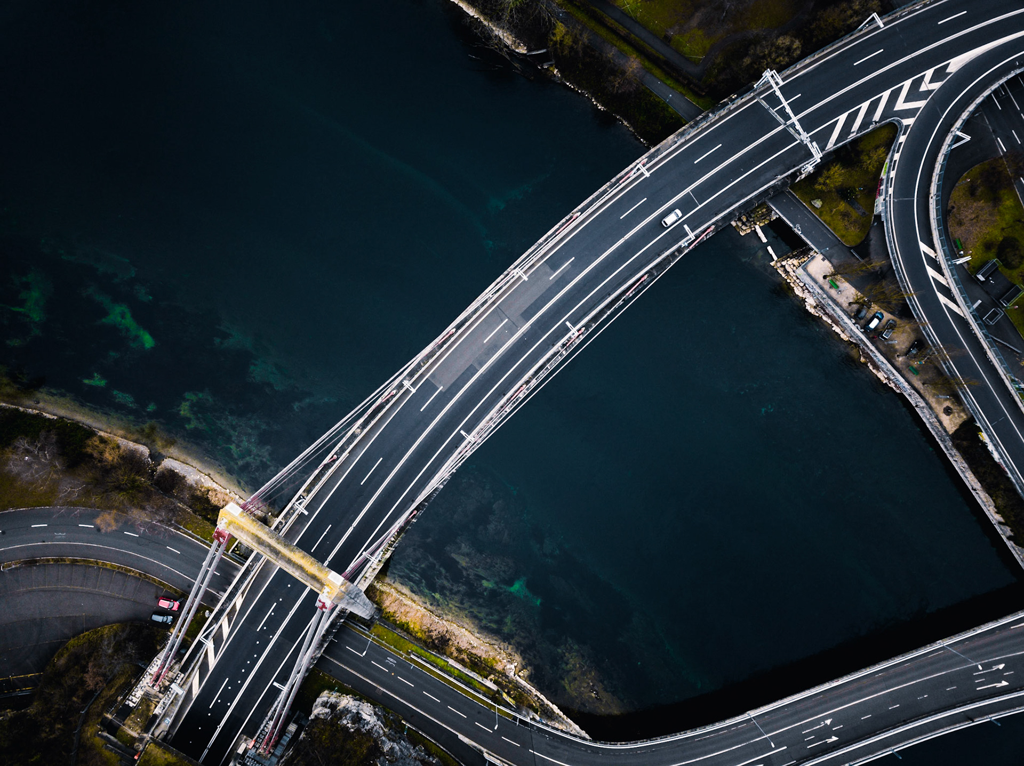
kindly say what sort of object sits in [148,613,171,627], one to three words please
car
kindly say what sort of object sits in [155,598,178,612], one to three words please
car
